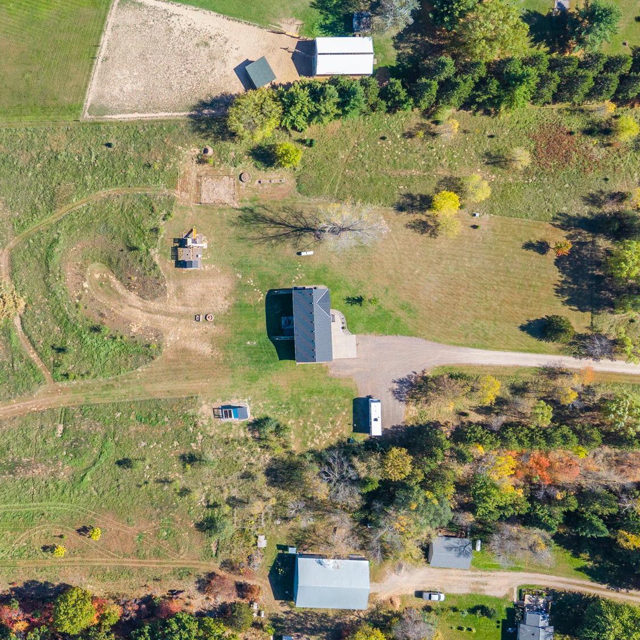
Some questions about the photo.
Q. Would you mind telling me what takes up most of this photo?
grass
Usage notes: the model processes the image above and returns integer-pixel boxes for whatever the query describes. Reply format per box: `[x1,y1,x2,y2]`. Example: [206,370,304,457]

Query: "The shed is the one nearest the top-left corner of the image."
[246,57,276,86]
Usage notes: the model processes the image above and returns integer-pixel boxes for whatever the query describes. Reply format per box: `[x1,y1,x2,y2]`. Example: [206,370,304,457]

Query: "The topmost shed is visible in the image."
[352,13,371,36]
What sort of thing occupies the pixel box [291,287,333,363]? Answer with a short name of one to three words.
house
